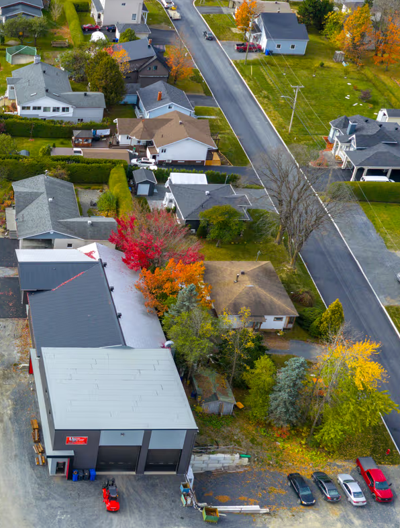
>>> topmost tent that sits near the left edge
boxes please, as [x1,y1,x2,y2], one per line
[3,45,37,66]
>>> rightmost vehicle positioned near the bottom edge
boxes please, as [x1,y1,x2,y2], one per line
[356,455,399,502]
